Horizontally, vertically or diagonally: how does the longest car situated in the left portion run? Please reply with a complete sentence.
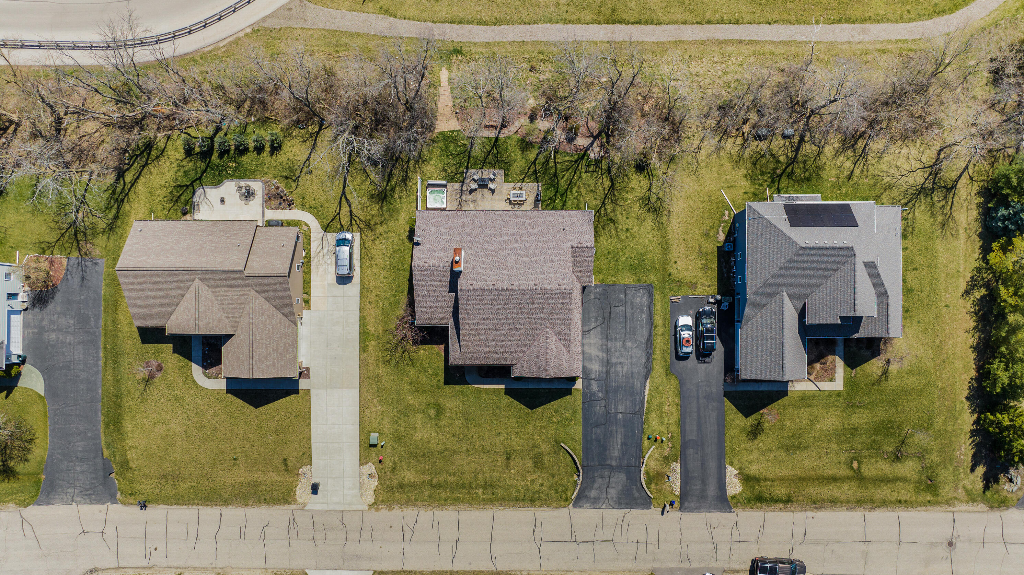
In this picture, the longest car situated in the left portion is oriented vertically.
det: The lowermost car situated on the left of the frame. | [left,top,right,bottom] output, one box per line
[332,231,354,277]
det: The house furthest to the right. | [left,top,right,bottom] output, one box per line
[722,188,908,387]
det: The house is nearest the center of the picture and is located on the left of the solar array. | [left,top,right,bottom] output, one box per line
[411,204,596,381]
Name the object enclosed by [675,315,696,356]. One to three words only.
car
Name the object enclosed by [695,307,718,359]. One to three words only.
car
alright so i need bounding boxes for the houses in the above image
[115,213,306,381]
[722,188,908,387]
[411,204,596,381]
[0,251,31,370]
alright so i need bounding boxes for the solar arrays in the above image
[784,204,858,227]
